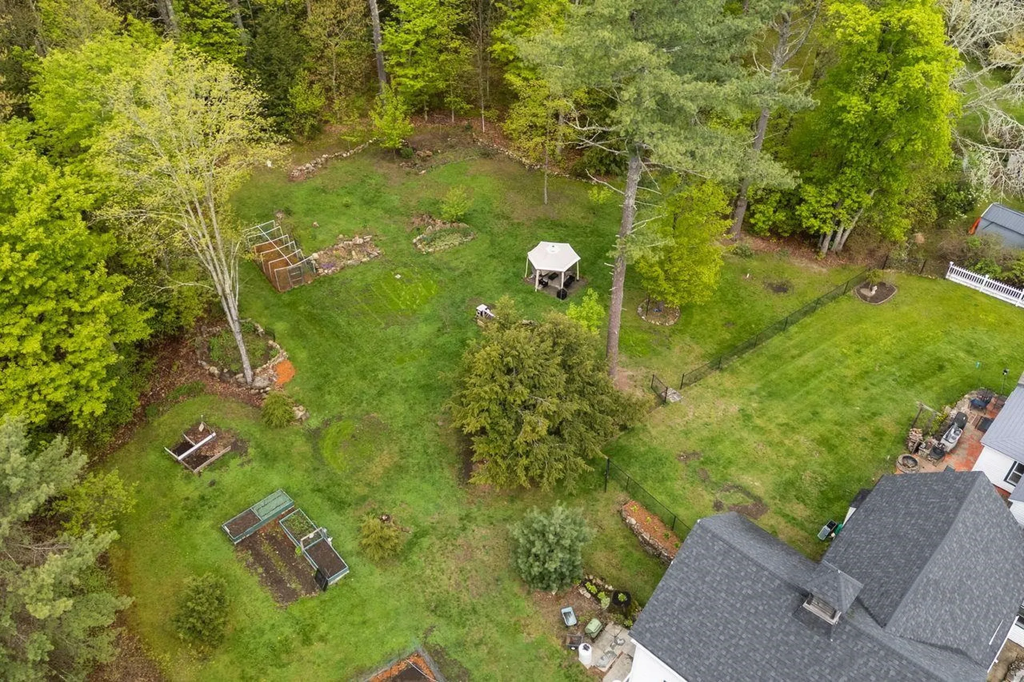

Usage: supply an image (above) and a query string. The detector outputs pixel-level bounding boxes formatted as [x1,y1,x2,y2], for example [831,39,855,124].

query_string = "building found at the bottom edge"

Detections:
[624,473,1024,682]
